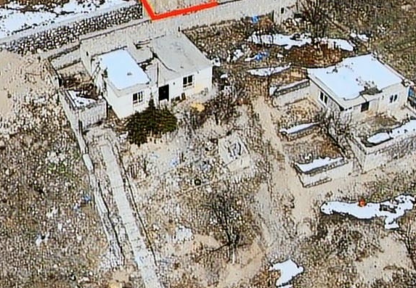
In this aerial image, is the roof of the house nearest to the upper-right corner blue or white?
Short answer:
white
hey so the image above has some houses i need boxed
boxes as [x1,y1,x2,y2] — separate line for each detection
[92,32,217,118]
[306,52,410,125]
